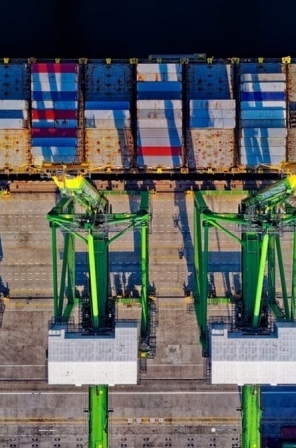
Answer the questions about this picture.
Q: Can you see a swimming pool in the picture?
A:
No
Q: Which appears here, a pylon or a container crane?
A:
container crane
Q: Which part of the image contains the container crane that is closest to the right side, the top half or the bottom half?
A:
bottom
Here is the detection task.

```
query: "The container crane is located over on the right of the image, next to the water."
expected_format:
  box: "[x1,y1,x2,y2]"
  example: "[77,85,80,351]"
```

[175,161,296,448]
